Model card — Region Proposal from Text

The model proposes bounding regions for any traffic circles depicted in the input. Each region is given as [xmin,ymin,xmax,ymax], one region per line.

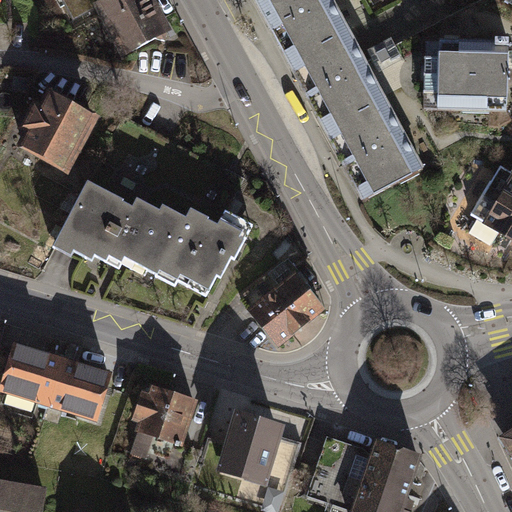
[326,290,468,431]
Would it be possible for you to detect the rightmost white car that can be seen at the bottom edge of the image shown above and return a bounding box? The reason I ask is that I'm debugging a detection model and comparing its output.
[494,467,511,490]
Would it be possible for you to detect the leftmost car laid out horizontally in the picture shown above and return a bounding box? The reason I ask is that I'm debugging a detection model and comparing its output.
[84,351,105,364]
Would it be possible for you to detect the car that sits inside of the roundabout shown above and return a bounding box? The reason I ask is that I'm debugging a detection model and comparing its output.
[410,301,432,316]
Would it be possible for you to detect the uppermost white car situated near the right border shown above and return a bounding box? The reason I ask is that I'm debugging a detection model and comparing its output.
[476,308,496,321]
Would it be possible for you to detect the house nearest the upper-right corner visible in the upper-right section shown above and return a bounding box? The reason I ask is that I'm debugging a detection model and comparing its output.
[424,36,510,114]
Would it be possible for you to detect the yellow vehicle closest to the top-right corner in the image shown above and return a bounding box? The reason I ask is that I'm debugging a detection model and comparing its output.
[285,89,308,124]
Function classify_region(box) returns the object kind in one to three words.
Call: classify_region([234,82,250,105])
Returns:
car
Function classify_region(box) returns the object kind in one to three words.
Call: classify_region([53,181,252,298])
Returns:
building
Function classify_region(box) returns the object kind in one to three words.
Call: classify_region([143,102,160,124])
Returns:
vehicle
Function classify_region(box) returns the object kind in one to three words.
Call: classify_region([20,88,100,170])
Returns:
house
